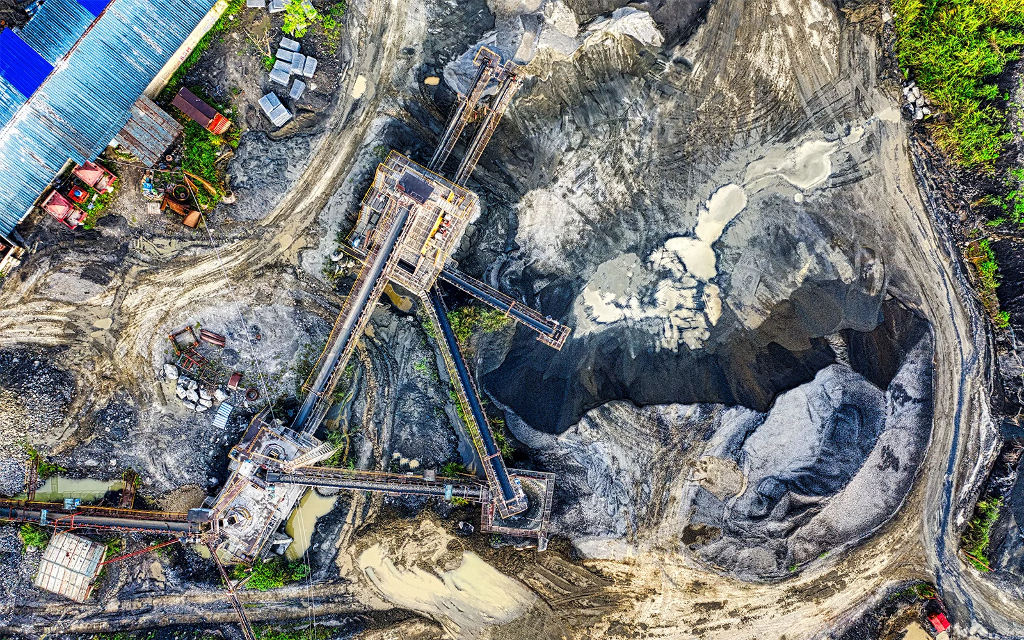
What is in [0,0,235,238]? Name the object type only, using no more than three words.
warehouse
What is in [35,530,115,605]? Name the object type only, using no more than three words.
shed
